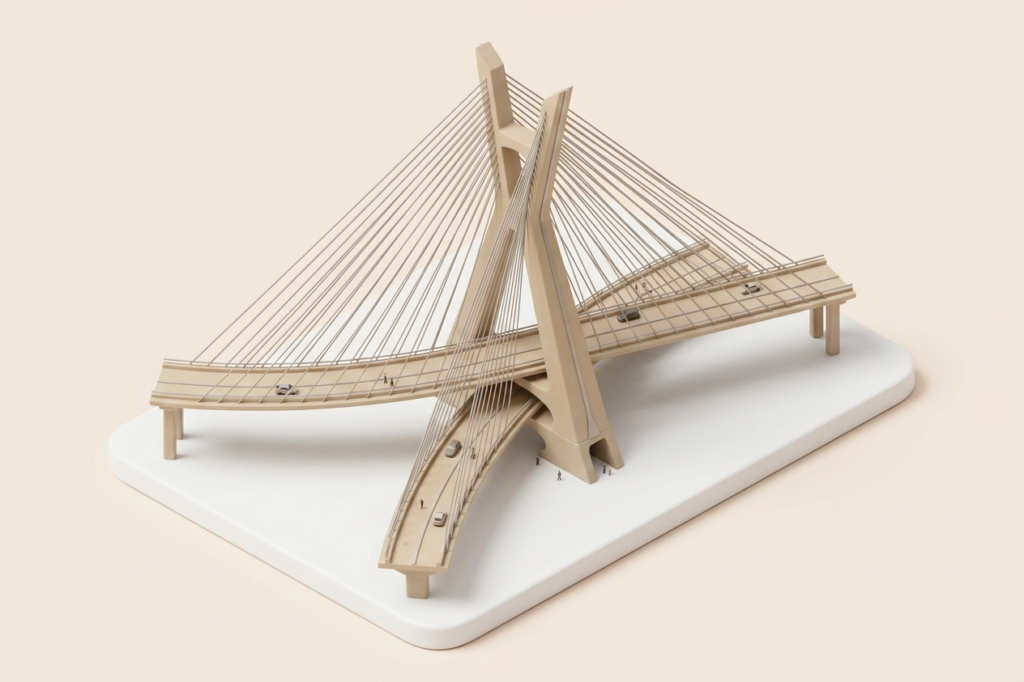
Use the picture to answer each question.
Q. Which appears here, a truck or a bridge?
bridge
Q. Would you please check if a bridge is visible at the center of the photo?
Yes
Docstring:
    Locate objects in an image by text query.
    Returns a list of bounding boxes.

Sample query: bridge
[150,45,855,599]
